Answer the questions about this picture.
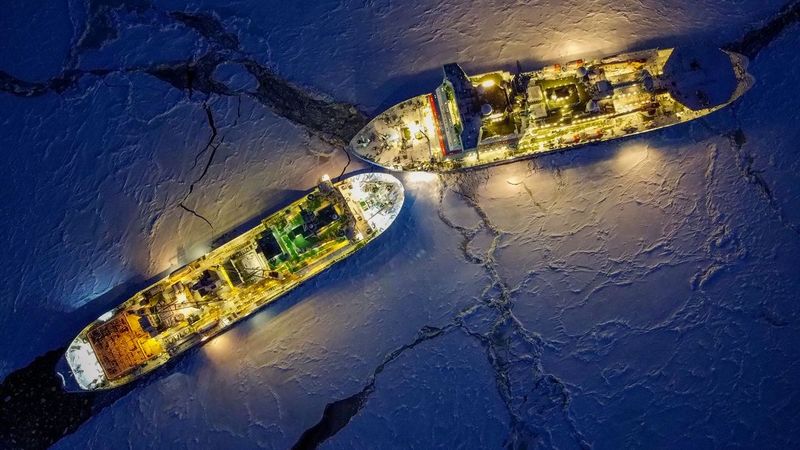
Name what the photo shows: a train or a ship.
ship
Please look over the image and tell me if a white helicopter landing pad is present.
No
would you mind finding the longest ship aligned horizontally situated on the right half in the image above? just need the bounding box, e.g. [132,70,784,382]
[348,45,756,176]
